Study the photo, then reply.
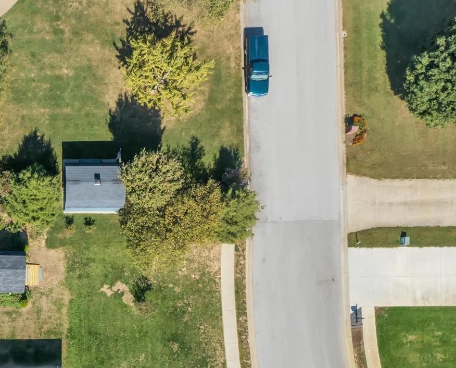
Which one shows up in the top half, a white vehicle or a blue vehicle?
blue vehicle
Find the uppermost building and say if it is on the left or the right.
left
